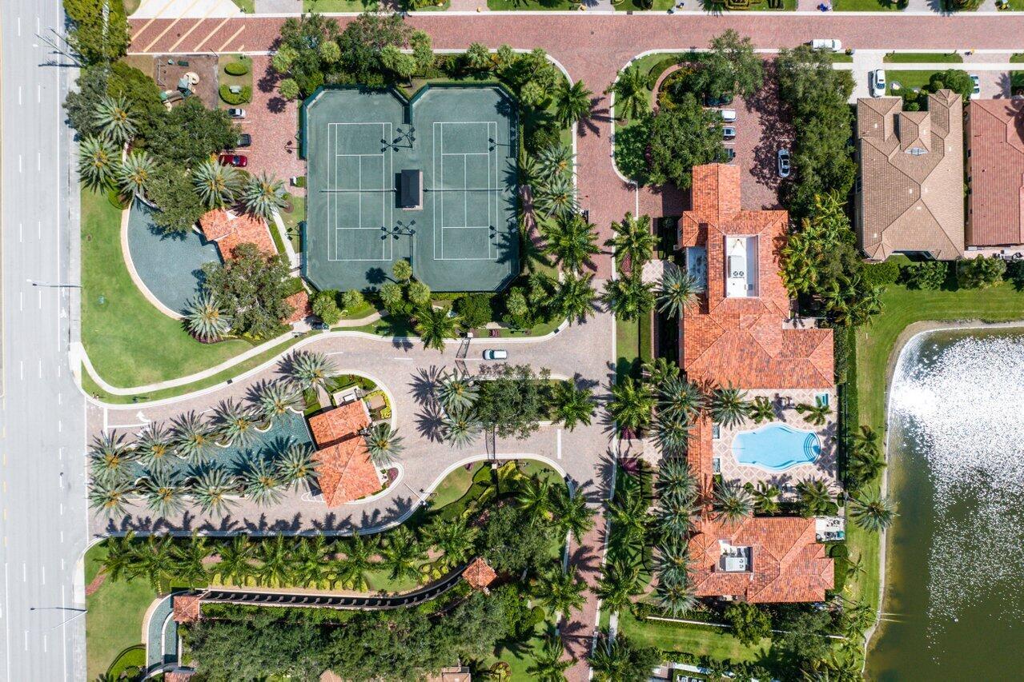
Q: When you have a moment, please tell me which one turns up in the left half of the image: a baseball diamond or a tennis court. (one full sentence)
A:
What appears in the left half of the image is a tennis court.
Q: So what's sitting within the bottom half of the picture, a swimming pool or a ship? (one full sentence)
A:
It is a swimming pool that can be seen within the bottom half of the picture.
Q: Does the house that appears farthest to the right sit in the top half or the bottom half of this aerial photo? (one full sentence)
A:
The house that appears farthest to the right is in the top half of the image.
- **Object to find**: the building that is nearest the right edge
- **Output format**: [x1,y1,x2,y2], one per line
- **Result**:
[962,99,1024,245]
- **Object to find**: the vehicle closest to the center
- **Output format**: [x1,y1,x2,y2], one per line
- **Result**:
[482,348,508,361]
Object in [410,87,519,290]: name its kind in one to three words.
tennis court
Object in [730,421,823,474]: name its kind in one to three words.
swimming pool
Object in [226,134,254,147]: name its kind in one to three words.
vehicle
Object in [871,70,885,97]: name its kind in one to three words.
car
